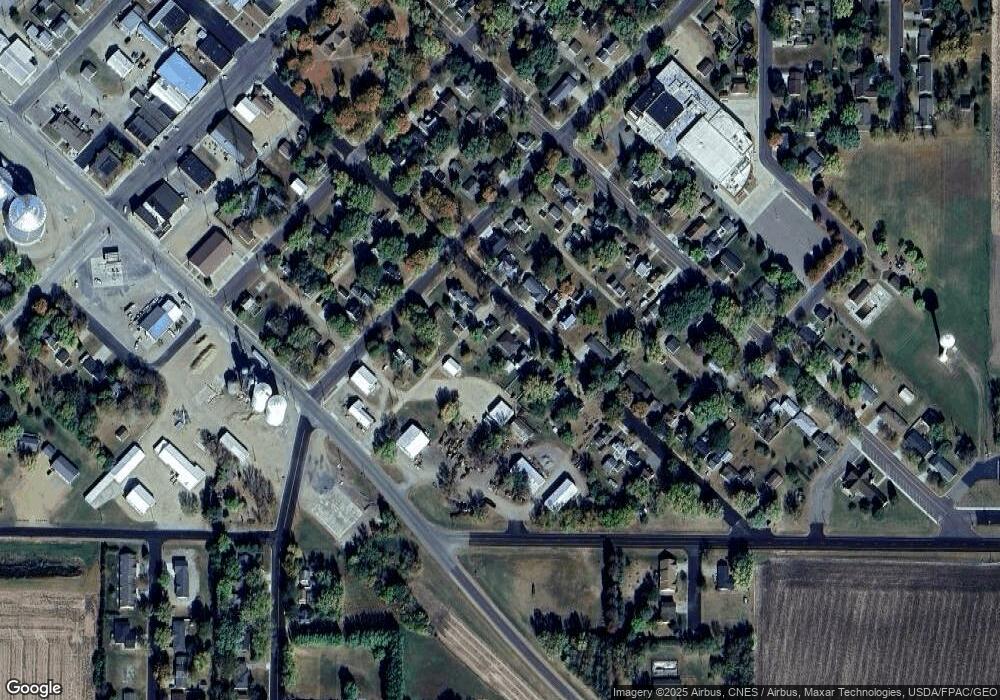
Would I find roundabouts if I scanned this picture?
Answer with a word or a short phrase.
No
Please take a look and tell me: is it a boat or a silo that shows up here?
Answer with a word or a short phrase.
silo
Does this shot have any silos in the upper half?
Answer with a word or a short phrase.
Yes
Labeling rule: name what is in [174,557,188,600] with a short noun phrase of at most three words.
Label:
house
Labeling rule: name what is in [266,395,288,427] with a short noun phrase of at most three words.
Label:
silo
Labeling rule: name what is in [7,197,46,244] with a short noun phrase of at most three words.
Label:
silo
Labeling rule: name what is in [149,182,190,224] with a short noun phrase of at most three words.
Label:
building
